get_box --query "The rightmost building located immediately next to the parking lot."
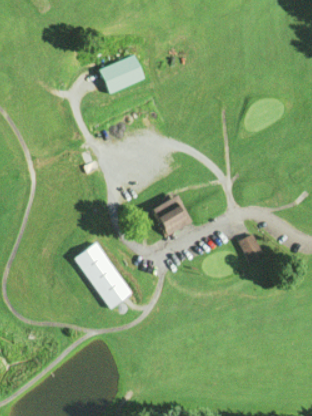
[154,194,192,235]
